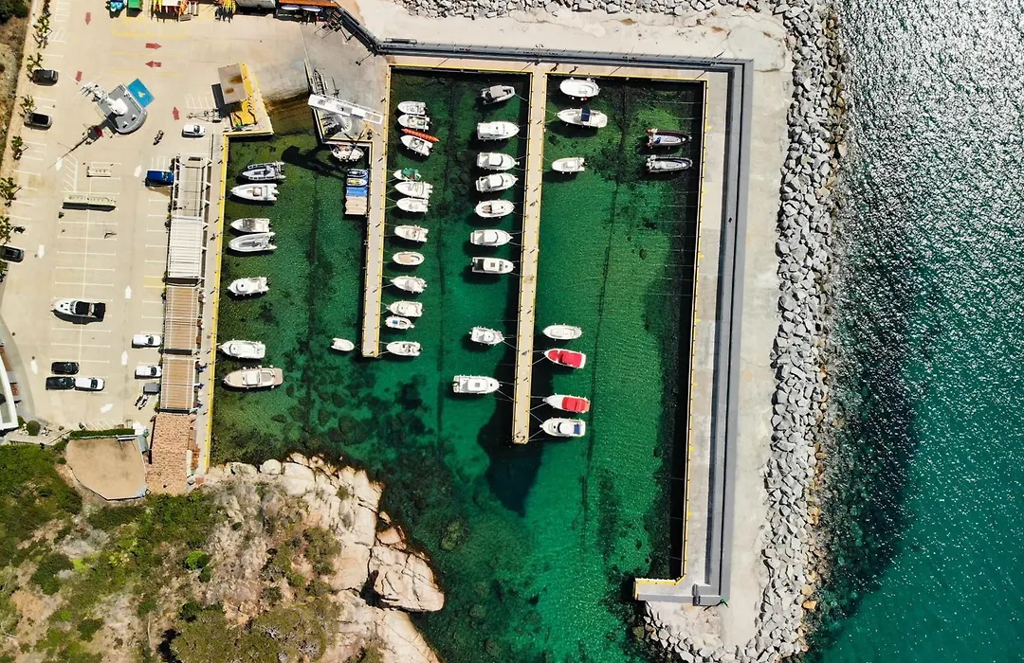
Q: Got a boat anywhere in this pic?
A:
Yes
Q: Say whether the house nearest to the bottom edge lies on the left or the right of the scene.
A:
left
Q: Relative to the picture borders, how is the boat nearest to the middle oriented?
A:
from side to side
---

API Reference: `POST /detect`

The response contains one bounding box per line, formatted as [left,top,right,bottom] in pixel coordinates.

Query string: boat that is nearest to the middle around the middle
[465,325,519,348]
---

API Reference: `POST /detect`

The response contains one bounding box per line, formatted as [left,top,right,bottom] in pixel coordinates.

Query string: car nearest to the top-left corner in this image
[26,67,57,85]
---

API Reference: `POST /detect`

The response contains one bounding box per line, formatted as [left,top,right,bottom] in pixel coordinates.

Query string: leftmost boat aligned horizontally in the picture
[51,298,107,320]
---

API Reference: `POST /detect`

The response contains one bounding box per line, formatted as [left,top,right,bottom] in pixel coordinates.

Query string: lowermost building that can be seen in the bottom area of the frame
[147,414,195,494]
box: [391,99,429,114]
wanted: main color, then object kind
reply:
white boat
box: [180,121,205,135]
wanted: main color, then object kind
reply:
white car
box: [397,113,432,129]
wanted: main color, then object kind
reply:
white boat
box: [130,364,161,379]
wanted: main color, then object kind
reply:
white vehicle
